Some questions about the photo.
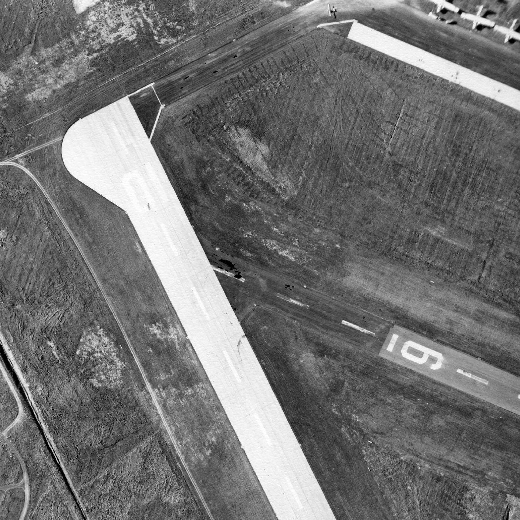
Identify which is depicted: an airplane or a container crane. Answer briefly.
airplane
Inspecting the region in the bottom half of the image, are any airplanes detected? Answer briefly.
No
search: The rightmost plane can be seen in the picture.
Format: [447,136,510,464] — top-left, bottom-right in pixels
[496,17,520,41]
